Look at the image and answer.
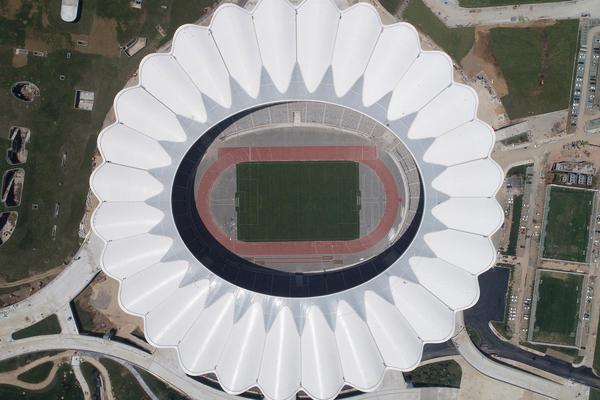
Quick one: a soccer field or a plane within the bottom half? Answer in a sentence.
Looking within the bottom half, you will find a soccer field.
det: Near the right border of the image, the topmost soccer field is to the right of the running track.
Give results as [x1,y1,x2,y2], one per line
[540,184,598,264]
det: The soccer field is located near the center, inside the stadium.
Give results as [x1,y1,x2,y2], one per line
[236,161,359,241]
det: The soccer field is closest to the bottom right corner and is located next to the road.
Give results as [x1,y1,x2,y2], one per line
[528,270,584,348]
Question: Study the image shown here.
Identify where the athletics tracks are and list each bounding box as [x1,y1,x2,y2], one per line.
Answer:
[196,148,399,255]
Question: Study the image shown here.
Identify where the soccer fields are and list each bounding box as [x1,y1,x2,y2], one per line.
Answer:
[528,270,584,348]
[540,184,598,264]
[236,161,359,241]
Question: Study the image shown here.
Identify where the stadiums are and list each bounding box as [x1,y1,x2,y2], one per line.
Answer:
[91,0,503,400]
